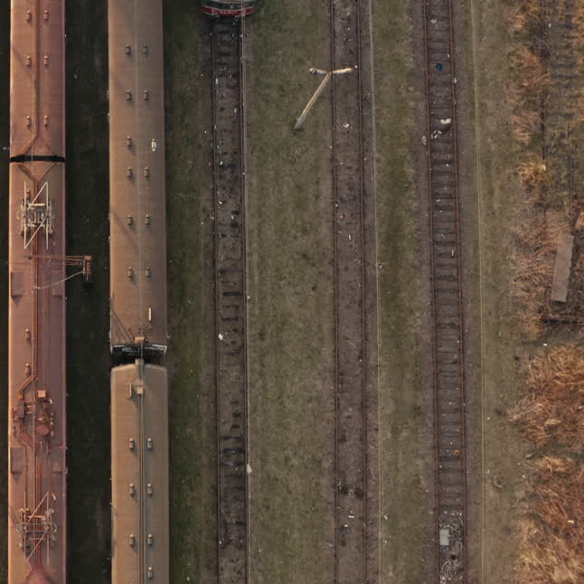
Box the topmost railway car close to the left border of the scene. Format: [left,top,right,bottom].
[11,0,66,165]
